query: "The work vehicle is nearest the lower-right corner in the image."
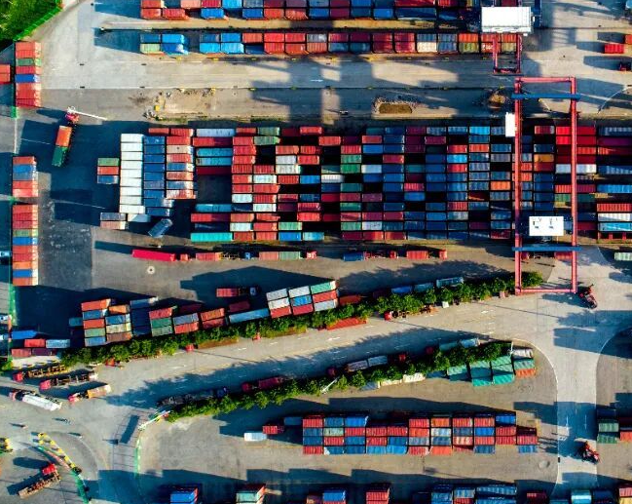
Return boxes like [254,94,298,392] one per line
[566,430,600,465]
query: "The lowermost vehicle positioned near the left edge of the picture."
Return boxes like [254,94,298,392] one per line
[20,466,71,498]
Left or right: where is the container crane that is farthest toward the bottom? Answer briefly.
right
